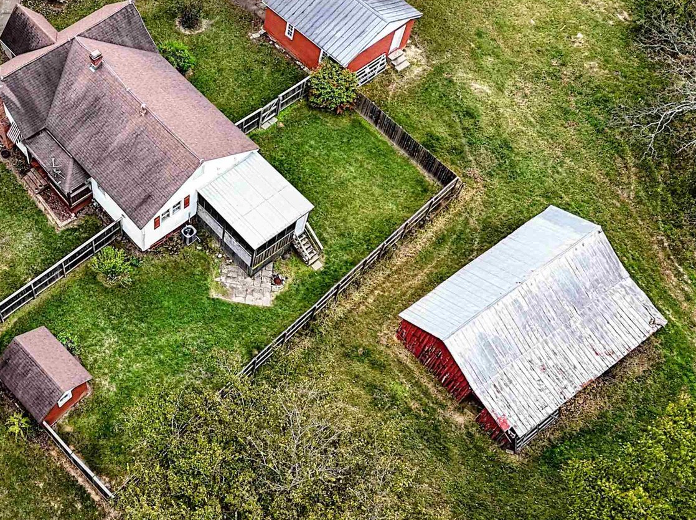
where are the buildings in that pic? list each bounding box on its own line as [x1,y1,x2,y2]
[0,0,323,277]
[263,0,420,81]
[398,207,669,455]
[0,328,91,423]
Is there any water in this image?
No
